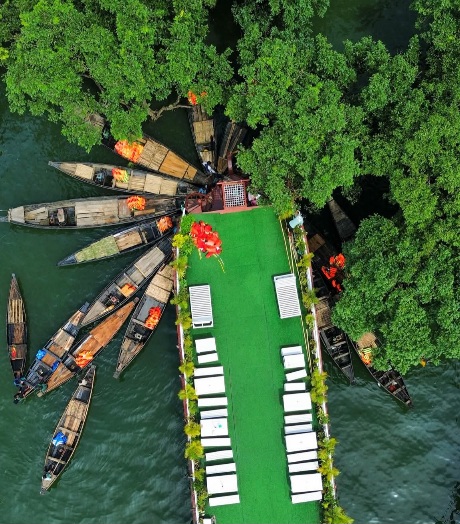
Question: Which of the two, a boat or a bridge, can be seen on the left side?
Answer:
boat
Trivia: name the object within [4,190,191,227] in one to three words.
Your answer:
boat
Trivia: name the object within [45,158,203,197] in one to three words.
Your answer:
boat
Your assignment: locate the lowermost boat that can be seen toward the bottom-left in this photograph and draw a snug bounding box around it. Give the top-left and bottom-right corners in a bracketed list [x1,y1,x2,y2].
[37,363,98,497]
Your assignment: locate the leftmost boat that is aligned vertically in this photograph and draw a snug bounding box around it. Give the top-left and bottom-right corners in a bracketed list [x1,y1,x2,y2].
[6,271,29,388]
